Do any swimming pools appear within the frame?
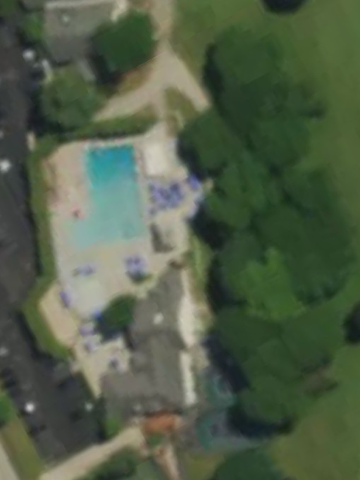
Yes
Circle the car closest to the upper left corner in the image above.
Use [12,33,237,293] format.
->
[21,45,35,65]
